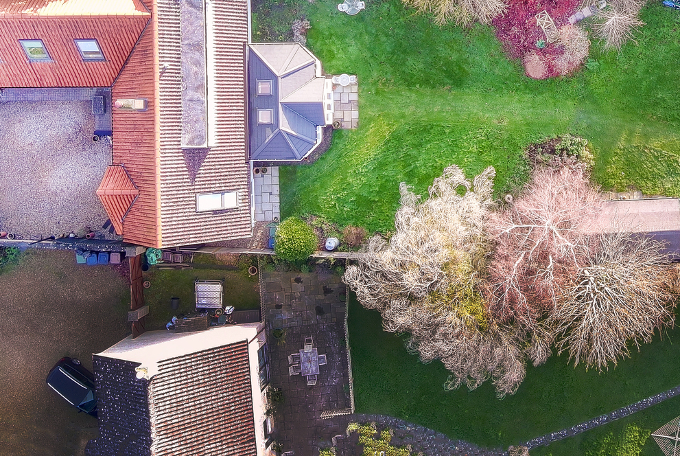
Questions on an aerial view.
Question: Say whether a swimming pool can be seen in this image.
No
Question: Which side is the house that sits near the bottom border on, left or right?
left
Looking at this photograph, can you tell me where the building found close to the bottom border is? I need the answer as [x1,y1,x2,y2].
[87,318,277,456]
